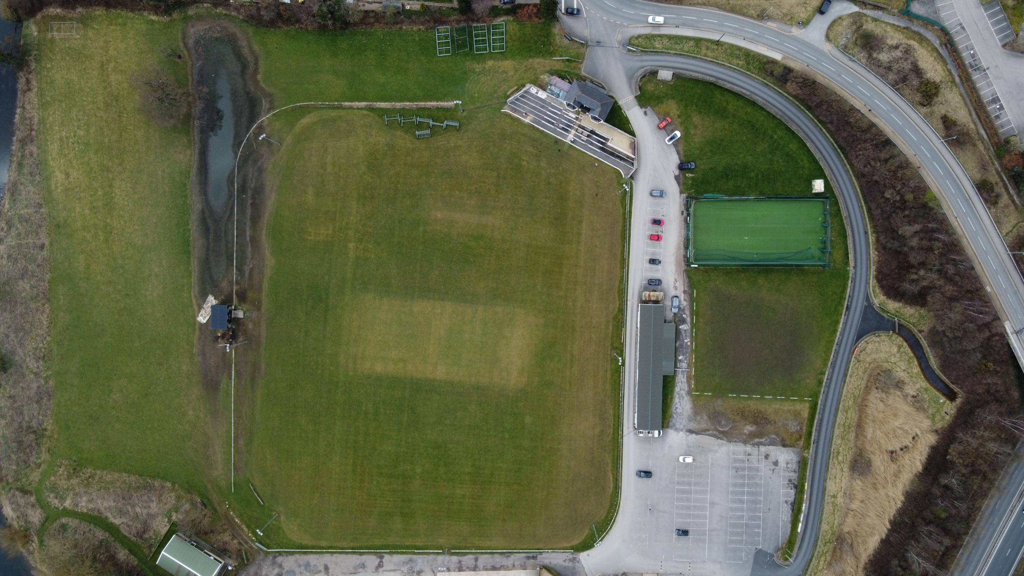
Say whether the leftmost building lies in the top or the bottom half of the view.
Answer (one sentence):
Seen from above, the leftmost building lies in the bottom half of the view.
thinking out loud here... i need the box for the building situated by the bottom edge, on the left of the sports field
[156,530,225,576]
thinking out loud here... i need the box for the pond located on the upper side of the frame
[205,56,238,216]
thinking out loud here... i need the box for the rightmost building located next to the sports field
[634,304,675,430]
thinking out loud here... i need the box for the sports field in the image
[252,110,622,548]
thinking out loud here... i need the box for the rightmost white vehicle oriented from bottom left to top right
[665,131,681,145]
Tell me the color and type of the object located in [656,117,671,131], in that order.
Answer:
red car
